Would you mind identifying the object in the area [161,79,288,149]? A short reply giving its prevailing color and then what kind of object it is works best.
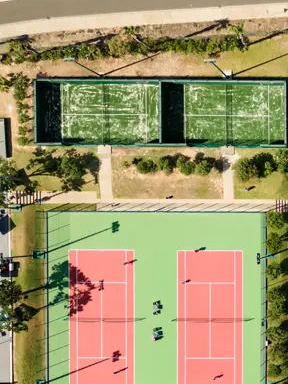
green sports court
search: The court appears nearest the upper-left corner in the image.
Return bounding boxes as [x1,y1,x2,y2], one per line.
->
[34,79,165,149]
